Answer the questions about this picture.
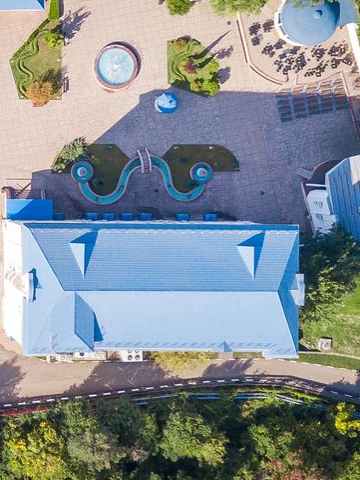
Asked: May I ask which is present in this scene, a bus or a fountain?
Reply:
fountain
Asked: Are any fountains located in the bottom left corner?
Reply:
No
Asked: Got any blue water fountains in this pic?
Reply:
Yes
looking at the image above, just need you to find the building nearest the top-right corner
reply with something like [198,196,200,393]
[271,0,359,47]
